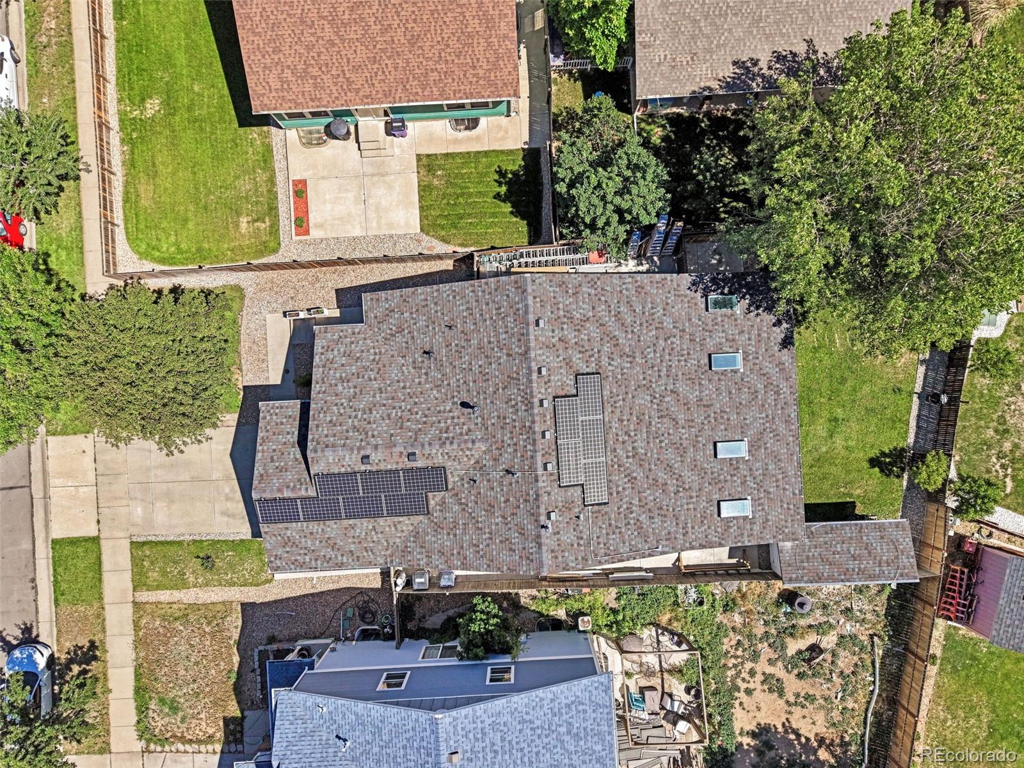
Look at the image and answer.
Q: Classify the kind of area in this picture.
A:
residential area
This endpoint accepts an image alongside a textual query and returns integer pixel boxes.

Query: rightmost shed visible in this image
[966,548,1024,654]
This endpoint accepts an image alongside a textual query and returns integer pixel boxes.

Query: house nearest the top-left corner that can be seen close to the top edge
[235,0,518,127]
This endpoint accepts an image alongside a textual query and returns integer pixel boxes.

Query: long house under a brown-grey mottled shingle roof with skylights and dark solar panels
[253,270,808,575]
